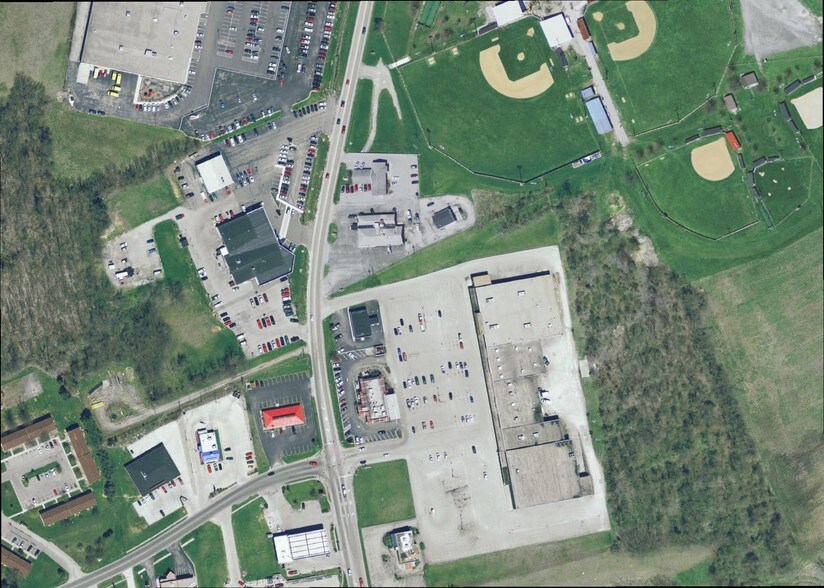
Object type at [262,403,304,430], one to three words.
building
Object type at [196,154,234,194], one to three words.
building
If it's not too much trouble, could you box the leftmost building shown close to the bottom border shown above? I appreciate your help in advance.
[0,546,31,578]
